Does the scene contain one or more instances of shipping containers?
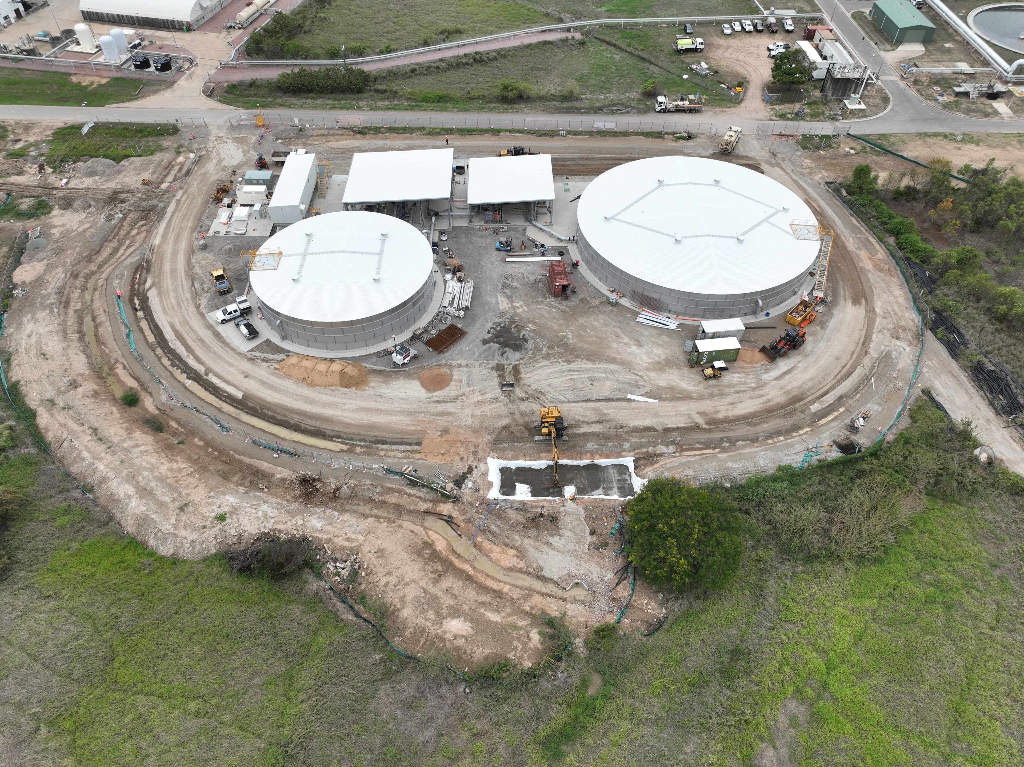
Yes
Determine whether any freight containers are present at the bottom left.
No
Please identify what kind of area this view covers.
industrial area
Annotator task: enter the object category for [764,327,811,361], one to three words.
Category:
work vehicle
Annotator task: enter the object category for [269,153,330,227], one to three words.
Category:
building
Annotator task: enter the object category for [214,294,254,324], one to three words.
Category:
truck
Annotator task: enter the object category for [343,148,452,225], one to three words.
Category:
shed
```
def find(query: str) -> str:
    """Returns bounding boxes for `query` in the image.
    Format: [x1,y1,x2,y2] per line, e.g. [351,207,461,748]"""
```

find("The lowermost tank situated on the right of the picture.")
[567,150,834,326]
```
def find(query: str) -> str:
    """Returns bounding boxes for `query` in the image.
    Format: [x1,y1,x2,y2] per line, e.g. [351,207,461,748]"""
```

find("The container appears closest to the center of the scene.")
[549,261,574,301]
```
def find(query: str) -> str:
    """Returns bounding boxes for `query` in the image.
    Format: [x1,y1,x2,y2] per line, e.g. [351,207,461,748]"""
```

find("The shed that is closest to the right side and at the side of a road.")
[867,0,937,46]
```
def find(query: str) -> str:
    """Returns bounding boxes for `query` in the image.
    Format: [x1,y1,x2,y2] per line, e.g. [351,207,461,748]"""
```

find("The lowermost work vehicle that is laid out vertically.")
[534,403,571,486]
